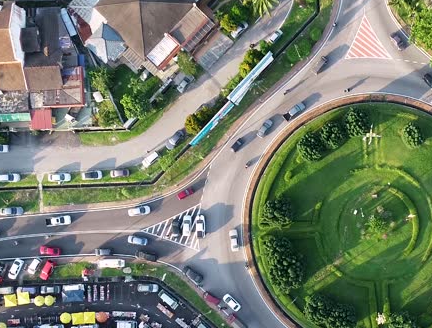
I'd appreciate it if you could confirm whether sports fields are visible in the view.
No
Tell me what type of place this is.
residential area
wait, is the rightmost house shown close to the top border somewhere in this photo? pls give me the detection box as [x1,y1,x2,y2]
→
[68,0,219,76]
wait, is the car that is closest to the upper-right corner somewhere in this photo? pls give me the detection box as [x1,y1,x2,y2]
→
[390,32,404,51]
